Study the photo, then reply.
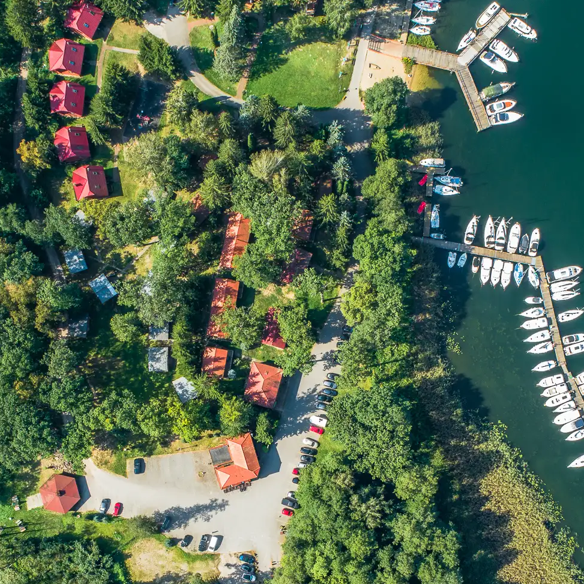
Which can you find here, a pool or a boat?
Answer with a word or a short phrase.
boat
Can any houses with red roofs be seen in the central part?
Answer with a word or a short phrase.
Yes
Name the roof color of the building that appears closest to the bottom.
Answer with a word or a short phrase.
red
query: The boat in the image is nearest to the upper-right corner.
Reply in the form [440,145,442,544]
[506,18,537,37]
